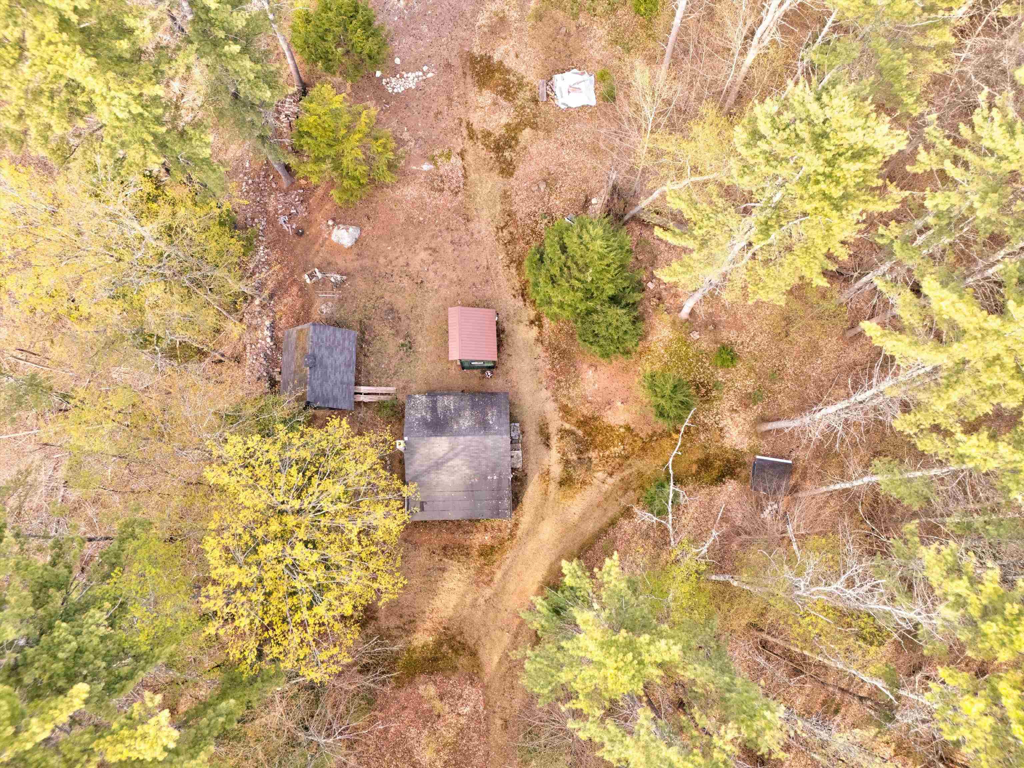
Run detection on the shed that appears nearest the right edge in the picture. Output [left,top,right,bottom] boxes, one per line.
[748,454,793,495]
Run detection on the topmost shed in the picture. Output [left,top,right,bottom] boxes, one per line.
[448,305,502,367]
